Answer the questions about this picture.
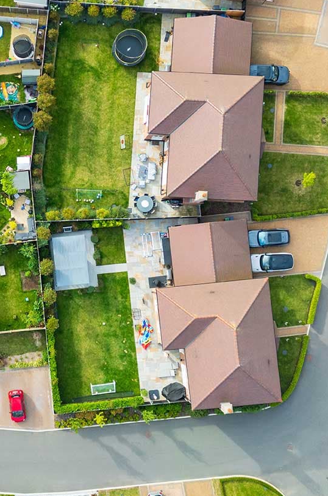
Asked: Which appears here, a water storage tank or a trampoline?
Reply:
trampoline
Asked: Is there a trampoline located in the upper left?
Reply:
Yes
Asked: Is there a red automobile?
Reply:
Yes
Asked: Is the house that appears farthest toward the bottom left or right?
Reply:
right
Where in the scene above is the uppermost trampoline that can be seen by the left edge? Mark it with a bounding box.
[13,32,33,56]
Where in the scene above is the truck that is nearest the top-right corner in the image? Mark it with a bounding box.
[250,62,290,83]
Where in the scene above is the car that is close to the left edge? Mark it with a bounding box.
[8,389,26,422]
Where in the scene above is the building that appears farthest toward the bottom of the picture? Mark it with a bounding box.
[154,277,282,410]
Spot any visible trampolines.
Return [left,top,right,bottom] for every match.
[13,104,34,127]
[114,27,149,64]
[13,32,33,56]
